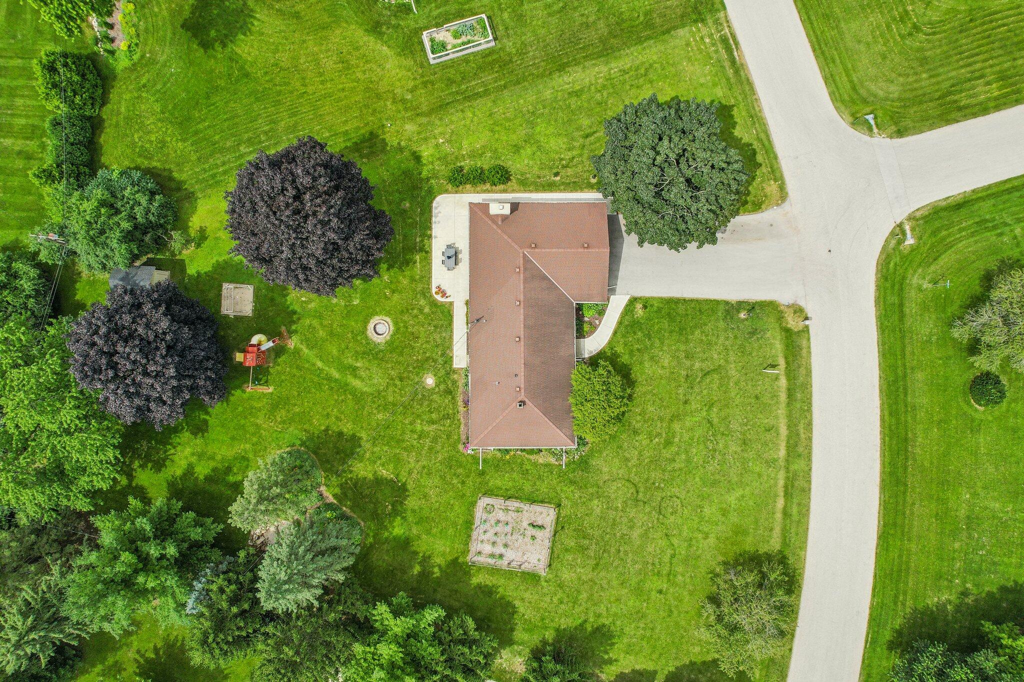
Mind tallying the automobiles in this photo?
0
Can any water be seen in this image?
No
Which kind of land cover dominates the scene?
grass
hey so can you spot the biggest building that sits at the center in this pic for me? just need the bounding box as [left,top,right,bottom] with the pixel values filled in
[467,201,618,468]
